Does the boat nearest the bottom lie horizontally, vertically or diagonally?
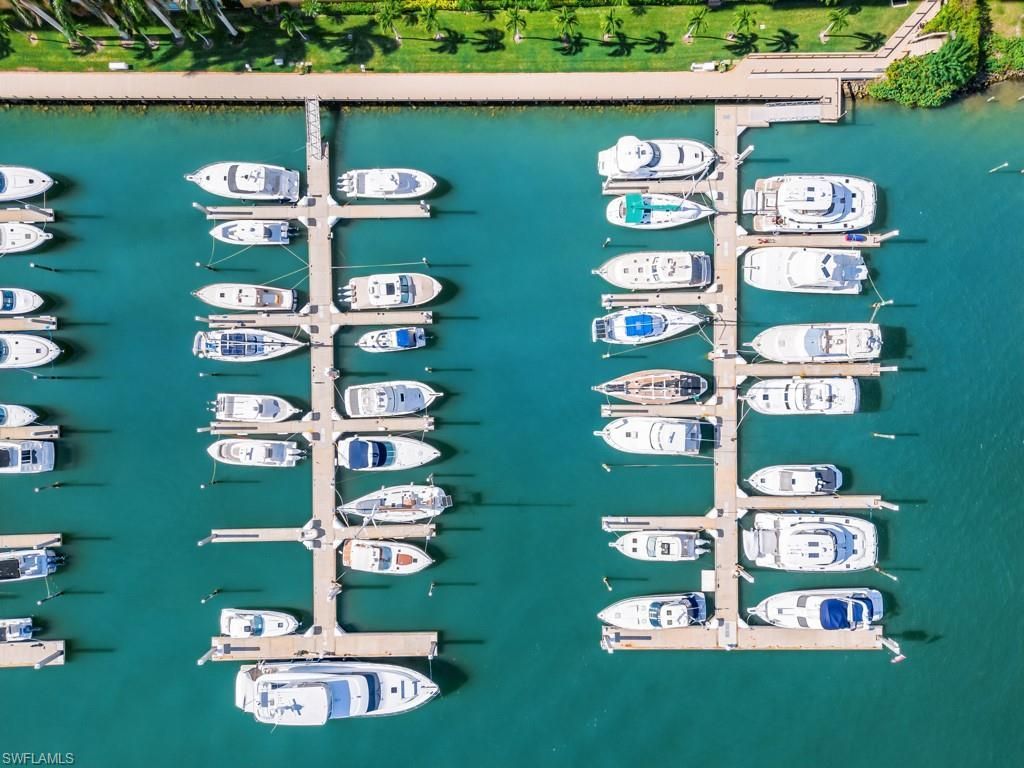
horizontally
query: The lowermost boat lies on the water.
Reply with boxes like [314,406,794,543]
[238,656,442,739]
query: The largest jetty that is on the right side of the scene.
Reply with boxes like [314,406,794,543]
[600,105,883,650]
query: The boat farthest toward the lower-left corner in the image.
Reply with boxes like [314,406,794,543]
[0,617,43,641]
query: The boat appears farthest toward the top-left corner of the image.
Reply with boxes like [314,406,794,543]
[0,165,59,202]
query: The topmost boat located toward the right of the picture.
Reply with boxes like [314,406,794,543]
[598,139,716,185]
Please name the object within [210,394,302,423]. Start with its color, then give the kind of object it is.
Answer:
white boat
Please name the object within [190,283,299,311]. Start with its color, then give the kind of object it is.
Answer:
white boat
